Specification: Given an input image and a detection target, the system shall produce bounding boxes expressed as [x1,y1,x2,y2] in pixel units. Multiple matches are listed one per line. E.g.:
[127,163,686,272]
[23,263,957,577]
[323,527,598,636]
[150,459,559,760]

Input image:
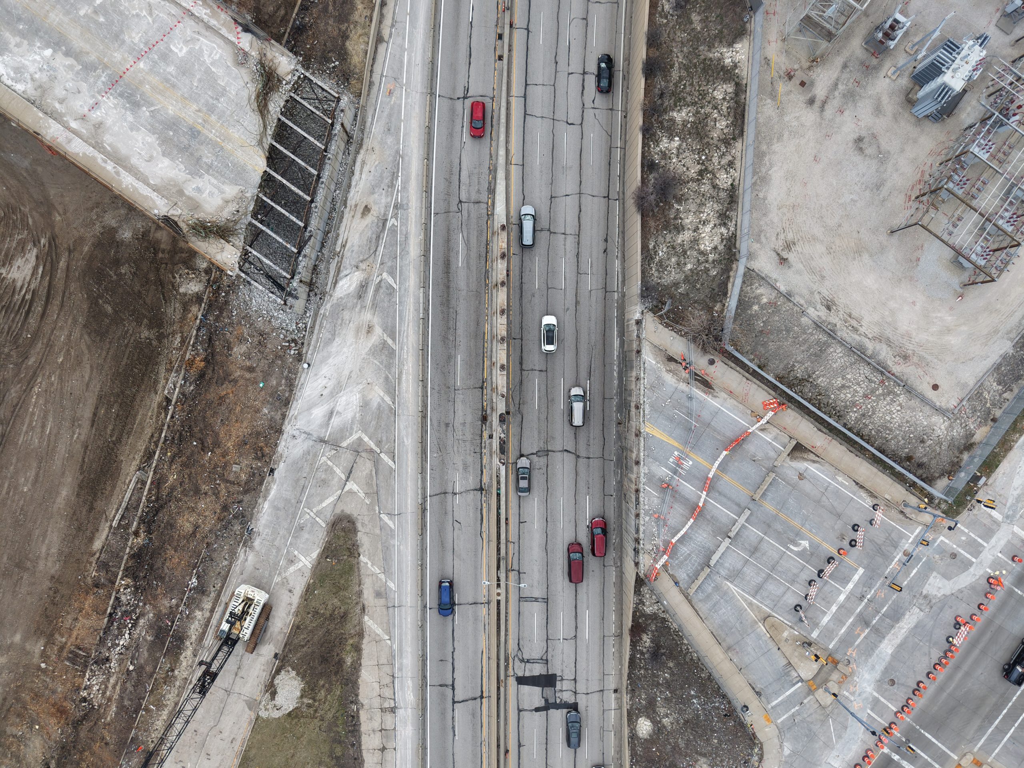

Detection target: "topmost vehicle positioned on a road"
[596,51,615,93]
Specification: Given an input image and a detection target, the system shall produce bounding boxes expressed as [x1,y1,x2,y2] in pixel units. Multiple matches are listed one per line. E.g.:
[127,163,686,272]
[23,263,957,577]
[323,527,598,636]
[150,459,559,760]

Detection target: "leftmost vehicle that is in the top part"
[468,98,486,137]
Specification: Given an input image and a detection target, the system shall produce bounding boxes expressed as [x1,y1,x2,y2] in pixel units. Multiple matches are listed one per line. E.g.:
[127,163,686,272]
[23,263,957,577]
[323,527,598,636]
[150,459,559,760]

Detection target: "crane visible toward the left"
[131,583,281,768]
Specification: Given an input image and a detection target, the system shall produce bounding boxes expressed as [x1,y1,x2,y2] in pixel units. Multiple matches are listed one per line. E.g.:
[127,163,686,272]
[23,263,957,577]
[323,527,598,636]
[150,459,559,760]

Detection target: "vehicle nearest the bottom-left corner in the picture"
[436,580,453,617]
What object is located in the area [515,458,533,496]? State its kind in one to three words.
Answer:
car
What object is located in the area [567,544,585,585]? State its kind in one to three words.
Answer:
vehicle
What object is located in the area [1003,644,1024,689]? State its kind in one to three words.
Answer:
truck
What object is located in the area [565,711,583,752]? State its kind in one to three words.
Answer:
car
